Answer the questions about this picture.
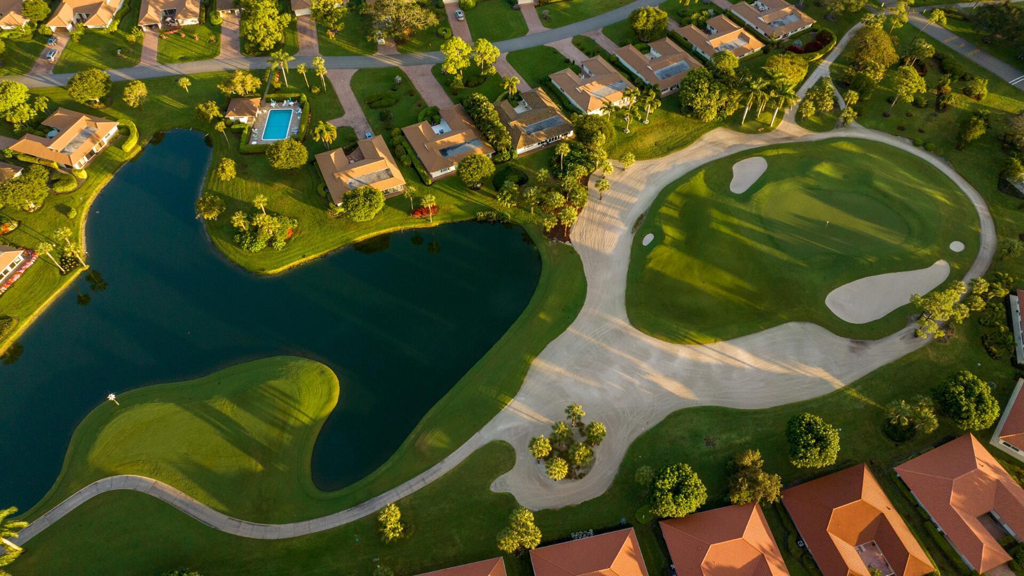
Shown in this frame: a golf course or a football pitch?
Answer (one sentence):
The one in the frame is a golf course.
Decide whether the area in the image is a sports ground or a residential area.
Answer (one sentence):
It's a residential area.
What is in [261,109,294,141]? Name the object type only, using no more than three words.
swimming pool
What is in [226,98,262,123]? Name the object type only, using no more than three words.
building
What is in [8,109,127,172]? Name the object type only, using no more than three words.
house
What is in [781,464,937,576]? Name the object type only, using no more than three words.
house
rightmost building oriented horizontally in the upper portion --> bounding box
[725,0,816,43]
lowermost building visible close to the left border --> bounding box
[0,239,33,290]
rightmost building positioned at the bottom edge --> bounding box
[893,433,1024,576]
